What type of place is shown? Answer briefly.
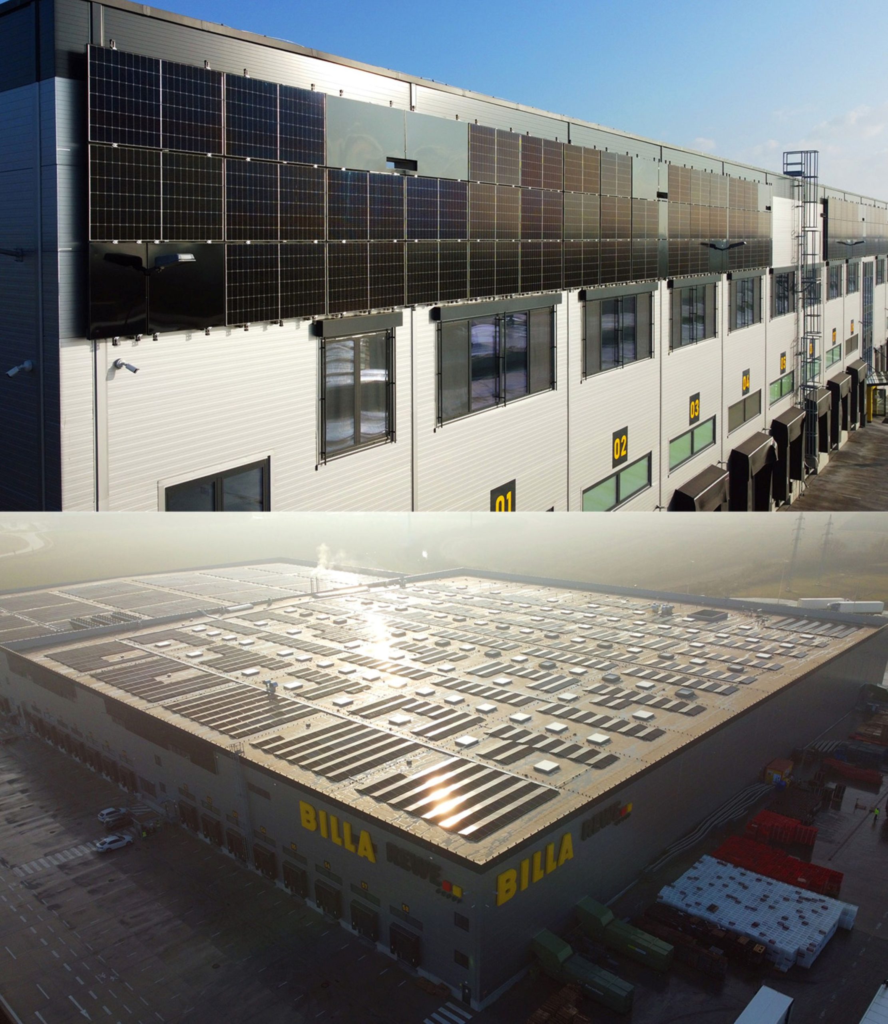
industrial area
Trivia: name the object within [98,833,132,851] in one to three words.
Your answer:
car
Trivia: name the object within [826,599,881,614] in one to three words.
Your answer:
trailer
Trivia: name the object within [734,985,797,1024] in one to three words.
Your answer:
trailer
